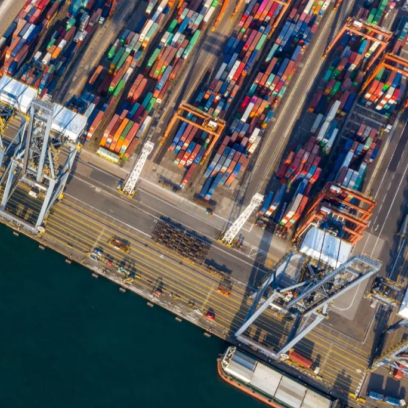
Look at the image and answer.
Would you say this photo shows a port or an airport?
port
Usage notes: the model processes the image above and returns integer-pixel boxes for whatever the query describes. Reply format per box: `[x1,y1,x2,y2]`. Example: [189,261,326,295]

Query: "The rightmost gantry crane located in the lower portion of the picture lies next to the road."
[342,263,408,369]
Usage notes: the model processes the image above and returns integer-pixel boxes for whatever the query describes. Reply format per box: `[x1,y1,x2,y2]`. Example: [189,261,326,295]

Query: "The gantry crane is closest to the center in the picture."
[159,100,230,164]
